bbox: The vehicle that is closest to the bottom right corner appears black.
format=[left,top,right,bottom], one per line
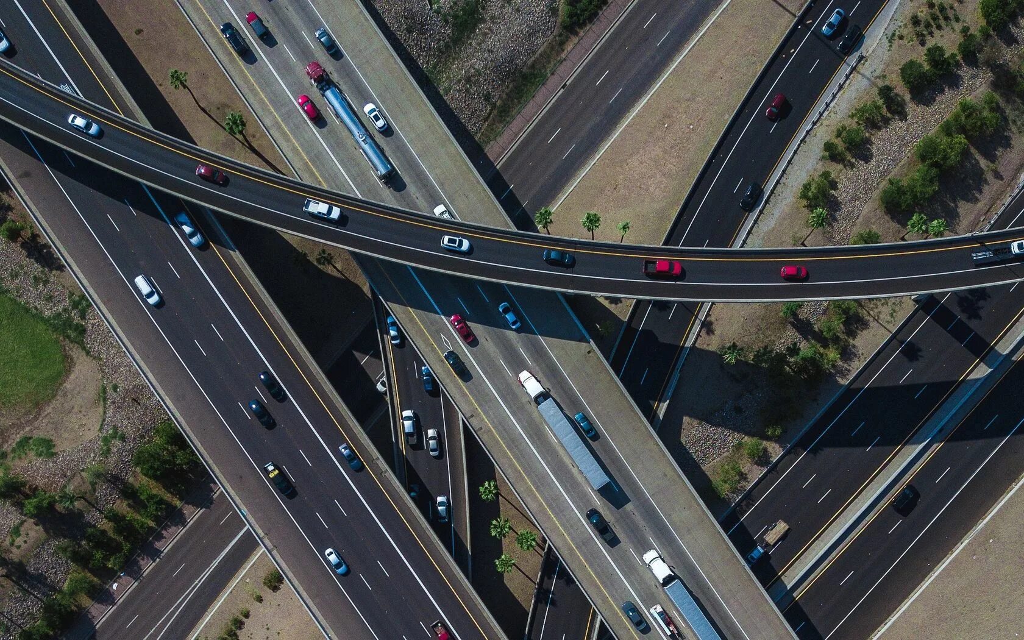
[893,484,919,511]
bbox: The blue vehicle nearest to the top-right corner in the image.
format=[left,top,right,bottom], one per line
[821,8,844,38]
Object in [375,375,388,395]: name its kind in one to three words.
vehicle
